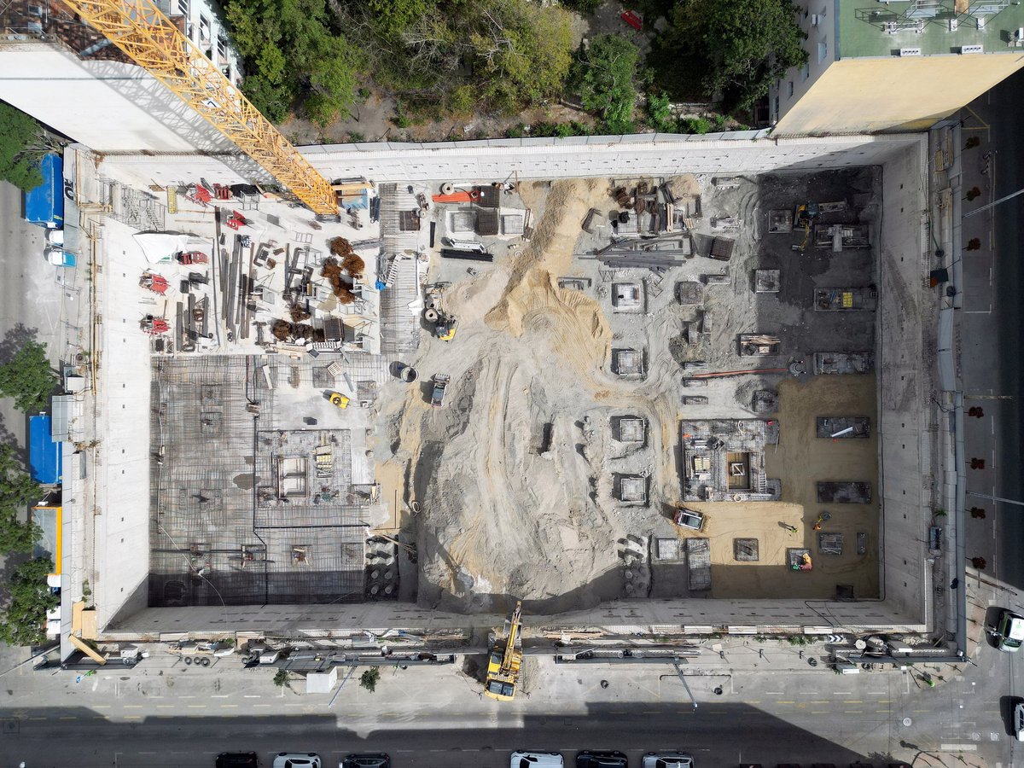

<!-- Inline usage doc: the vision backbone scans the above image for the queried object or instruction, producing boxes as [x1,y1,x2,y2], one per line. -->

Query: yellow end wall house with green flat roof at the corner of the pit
[768,0,1024,137]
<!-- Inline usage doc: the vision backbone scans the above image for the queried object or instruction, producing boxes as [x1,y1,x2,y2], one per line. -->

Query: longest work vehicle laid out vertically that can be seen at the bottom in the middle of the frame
[487,599,525,706]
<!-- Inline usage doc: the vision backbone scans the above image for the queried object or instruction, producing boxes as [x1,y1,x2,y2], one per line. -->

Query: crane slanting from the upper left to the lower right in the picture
[66,0,339,222]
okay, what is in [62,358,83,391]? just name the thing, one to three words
building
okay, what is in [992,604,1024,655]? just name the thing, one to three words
car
